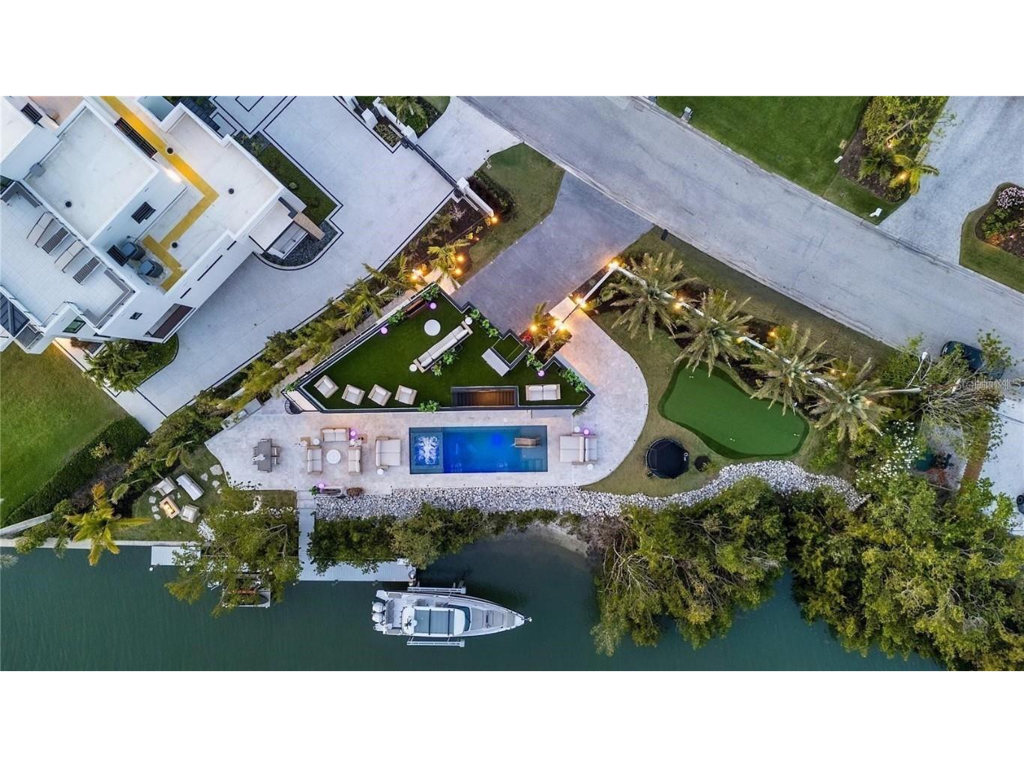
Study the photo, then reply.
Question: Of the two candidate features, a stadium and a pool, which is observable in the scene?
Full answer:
I can see a pool in this picture.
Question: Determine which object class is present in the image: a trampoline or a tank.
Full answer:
It is a trampoline that can be seen here.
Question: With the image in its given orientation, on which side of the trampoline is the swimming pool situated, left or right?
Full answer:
From the viewer's perspective, the swimming pool falls to the left of the trampoline.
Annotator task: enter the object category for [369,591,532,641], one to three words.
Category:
boat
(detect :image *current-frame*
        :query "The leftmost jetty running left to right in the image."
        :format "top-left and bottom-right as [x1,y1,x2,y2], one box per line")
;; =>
[148,546,268,575]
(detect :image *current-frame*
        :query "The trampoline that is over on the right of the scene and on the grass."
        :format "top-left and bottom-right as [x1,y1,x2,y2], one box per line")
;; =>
[644,437,691,481]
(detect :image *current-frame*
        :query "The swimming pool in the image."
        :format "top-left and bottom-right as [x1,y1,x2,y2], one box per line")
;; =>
[409,427,548,473]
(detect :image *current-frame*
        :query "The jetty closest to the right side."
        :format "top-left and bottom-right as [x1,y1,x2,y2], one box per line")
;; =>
[291,507,418,588]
